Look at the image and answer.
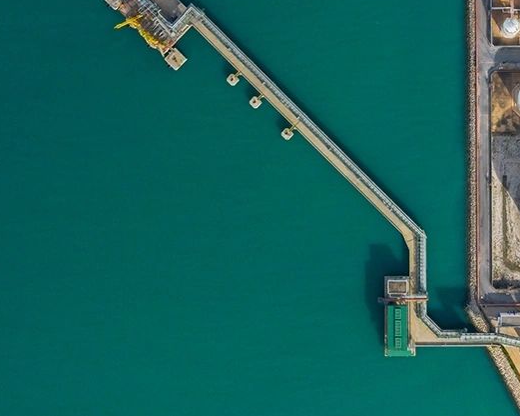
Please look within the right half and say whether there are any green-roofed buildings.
Yes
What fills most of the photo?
water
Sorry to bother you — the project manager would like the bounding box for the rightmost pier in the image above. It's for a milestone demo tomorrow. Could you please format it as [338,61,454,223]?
[192,12,520,355]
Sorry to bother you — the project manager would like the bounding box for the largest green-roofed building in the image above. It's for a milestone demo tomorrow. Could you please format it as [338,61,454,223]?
[388,303,409,355]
